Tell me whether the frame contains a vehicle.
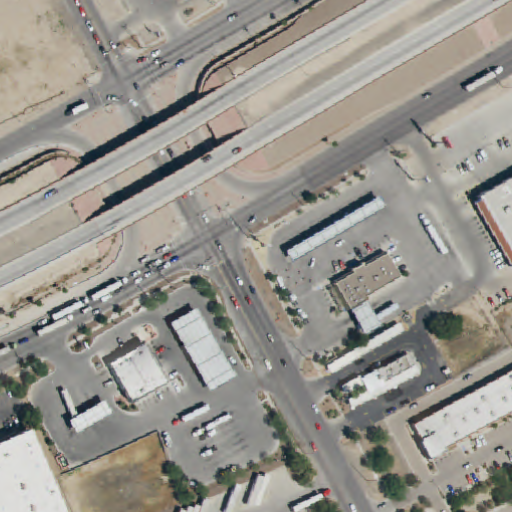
Yes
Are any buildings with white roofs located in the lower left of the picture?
Yes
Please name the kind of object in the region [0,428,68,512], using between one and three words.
building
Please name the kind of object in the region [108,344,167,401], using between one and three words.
building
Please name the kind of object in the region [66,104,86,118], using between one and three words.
vehicle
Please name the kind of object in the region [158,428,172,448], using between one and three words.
vehicle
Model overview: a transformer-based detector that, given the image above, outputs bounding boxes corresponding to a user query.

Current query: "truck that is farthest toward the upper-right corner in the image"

[466,68,499,91]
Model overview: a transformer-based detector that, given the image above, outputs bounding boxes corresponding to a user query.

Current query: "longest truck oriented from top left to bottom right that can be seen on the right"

[420,219,447,253]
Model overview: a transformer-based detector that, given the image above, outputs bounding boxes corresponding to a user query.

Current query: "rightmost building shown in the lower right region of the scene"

[412,368,512,459]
